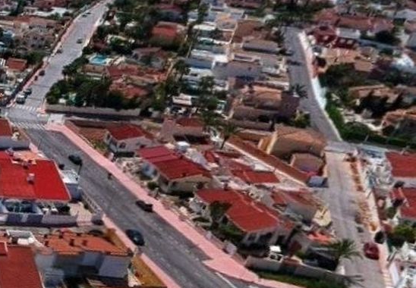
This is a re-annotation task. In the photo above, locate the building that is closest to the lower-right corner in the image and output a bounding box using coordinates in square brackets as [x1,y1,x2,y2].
[363,183,416,236]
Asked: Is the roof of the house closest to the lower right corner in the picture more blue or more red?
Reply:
red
